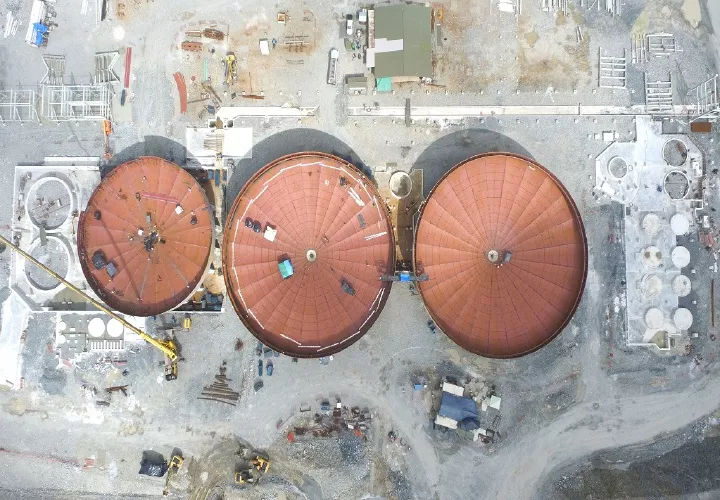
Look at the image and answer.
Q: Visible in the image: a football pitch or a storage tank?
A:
storage tank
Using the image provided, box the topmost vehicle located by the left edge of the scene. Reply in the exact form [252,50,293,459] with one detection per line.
[18,0,46,46]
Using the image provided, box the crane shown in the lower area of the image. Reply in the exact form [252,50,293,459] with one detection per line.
[0,231,192,383]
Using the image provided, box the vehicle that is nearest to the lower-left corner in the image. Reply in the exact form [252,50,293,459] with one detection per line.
[165,456,182,489]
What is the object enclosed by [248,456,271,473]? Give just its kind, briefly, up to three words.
work vehicle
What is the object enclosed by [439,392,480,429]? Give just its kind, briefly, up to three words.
tent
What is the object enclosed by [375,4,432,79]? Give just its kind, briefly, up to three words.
building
